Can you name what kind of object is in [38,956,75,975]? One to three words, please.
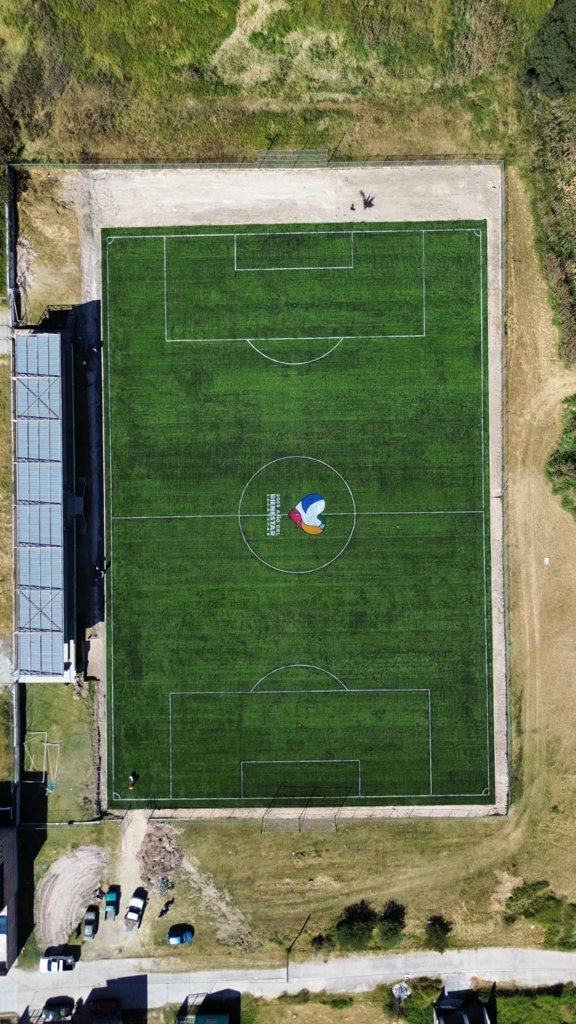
vehicle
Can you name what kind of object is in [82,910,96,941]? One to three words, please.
car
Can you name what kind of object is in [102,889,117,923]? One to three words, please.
vehicle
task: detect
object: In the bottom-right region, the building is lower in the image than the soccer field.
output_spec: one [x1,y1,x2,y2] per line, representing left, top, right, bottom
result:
[434,994,492,1024]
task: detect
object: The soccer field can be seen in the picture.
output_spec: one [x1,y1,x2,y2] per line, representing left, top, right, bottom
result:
[100,220,496,809]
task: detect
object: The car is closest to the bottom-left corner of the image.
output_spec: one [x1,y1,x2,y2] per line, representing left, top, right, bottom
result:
[41,1004,72,1022]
